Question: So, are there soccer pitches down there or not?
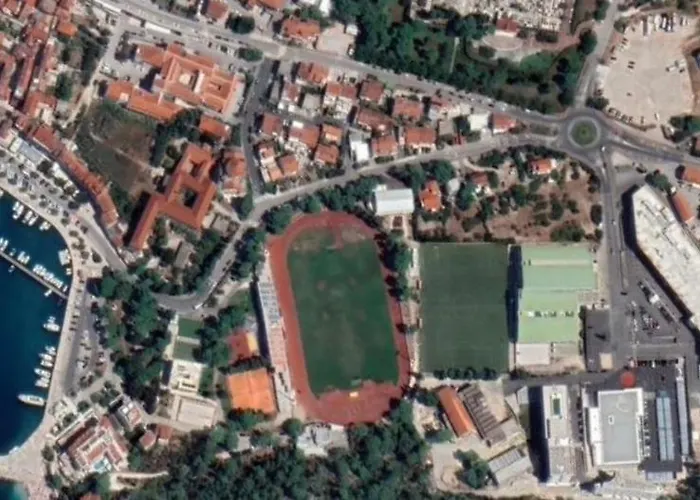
Yes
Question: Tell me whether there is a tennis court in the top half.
No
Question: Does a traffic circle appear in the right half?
Yes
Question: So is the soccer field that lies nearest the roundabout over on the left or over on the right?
right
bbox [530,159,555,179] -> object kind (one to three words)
house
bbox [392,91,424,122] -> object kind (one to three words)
house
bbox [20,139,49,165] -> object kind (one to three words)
building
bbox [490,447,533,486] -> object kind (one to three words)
shed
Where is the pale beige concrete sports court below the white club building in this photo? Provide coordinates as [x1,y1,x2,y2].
[176,397,217,425]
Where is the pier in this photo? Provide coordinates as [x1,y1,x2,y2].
[0,251,70,300]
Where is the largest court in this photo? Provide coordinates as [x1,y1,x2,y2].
[227,370,275,413]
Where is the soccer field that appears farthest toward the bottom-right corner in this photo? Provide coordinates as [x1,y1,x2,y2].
[420,243,509,373]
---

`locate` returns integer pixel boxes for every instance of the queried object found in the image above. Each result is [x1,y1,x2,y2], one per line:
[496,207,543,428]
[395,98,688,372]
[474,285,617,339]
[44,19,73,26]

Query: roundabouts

[554,103,613,162]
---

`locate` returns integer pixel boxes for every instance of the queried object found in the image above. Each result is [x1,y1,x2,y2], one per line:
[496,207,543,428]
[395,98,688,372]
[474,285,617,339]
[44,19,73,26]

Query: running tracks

[268,211,412,426]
